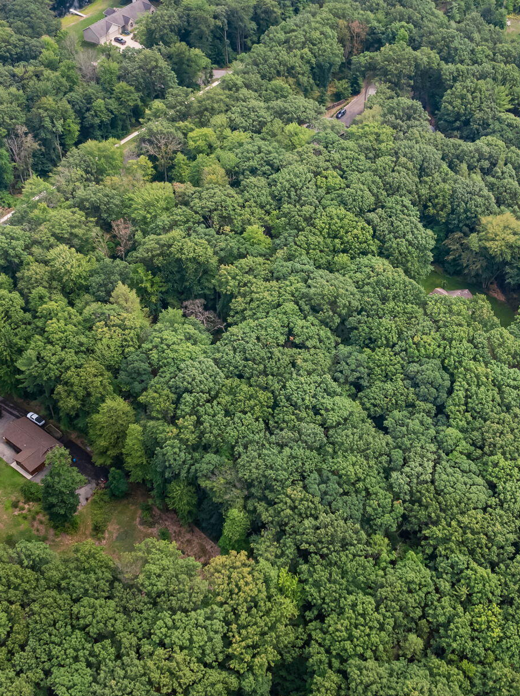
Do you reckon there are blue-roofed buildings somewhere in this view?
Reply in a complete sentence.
No, there's no blue-roofed building here.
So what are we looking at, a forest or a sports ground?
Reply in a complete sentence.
This looks like a forest.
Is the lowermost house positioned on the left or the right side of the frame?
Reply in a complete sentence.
The lowermost house is on the left side of the image.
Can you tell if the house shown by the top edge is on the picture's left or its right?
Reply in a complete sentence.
The house shown by the top edge appears in the left half of the scene.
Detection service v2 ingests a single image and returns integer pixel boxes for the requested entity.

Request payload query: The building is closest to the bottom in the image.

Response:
[1,418,63,481]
